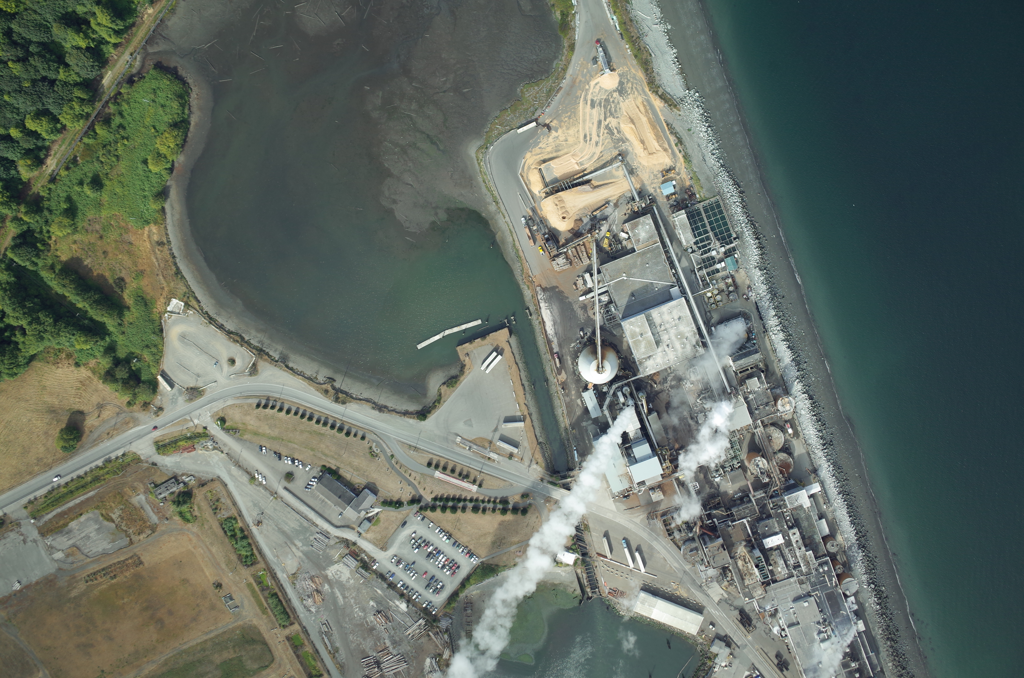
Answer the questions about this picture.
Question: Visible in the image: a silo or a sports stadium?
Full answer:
Of the two, only a silo appears.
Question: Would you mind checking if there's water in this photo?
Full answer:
Yes, water shows up in the scene.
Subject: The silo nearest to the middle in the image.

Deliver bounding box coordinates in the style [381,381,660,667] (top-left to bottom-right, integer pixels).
[574,341,623,388]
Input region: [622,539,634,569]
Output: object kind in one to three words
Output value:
vehicle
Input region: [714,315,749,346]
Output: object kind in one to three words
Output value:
cooling tower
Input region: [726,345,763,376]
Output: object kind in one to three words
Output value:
house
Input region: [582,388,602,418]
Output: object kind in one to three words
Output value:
building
